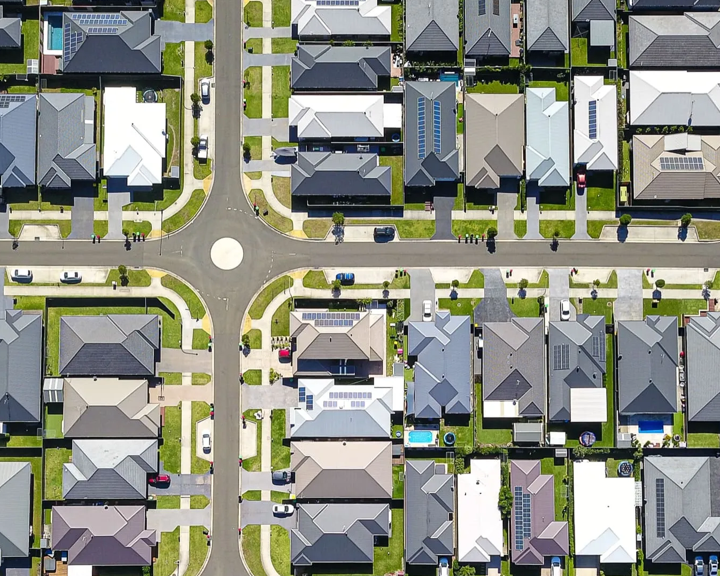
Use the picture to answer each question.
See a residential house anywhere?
Yes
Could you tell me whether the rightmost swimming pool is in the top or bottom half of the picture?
bottom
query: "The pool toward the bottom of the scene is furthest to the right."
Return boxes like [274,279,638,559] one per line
[619,416,674,447]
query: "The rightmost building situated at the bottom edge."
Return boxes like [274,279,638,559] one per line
[643,456,720,563]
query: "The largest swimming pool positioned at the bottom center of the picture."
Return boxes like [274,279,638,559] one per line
[404,429,438,447]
